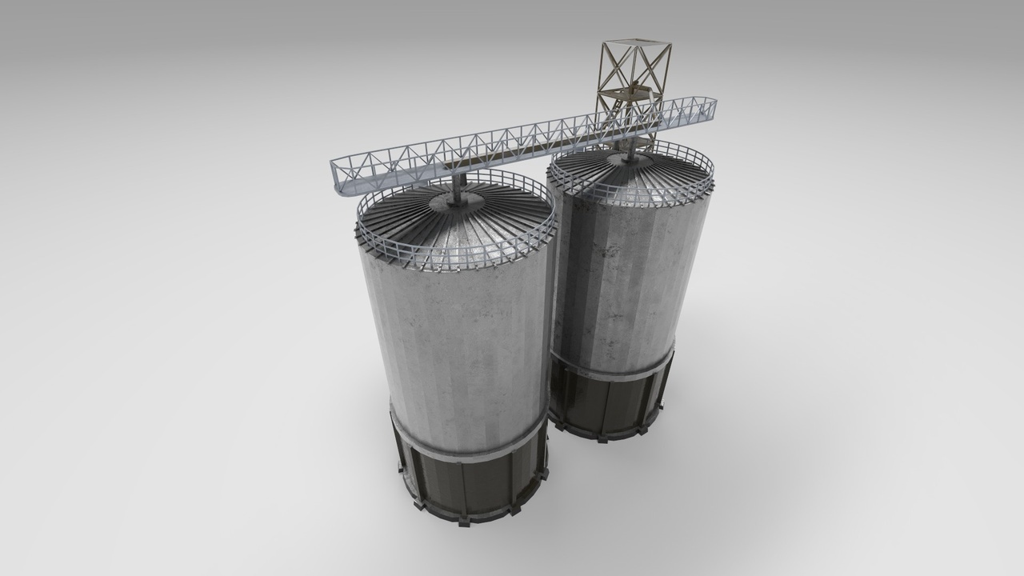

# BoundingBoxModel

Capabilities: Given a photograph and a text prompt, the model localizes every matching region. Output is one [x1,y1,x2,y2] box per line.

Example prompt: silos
[353,169,560,527]
[545,137,716,444]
